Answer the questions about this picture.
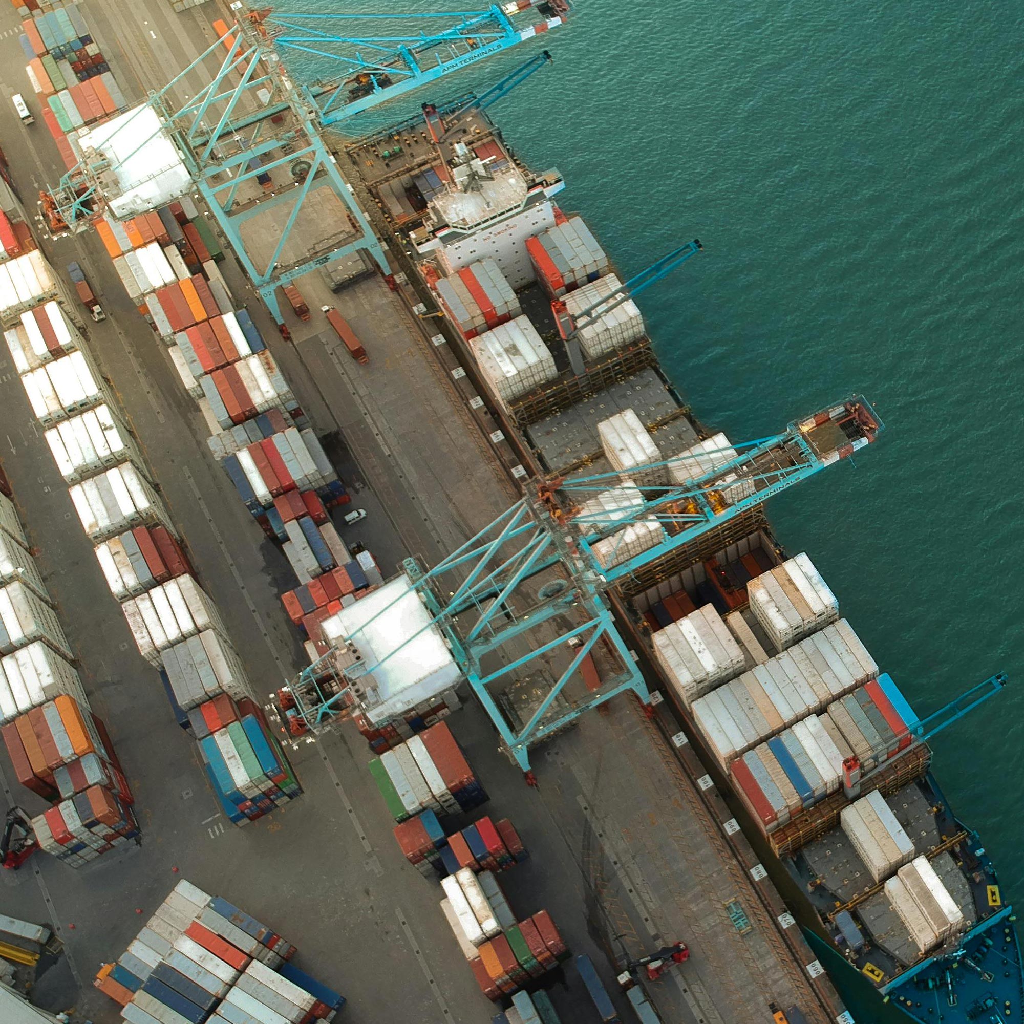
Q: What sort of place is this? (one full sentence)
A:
It's a port.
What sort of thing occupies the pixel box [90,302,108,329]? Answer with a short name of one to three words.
vehicle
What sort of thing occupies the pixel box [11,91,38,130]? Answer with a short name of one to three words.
truck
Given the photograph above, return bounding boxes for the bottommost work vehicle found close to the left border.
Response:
[0,790,42,881]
